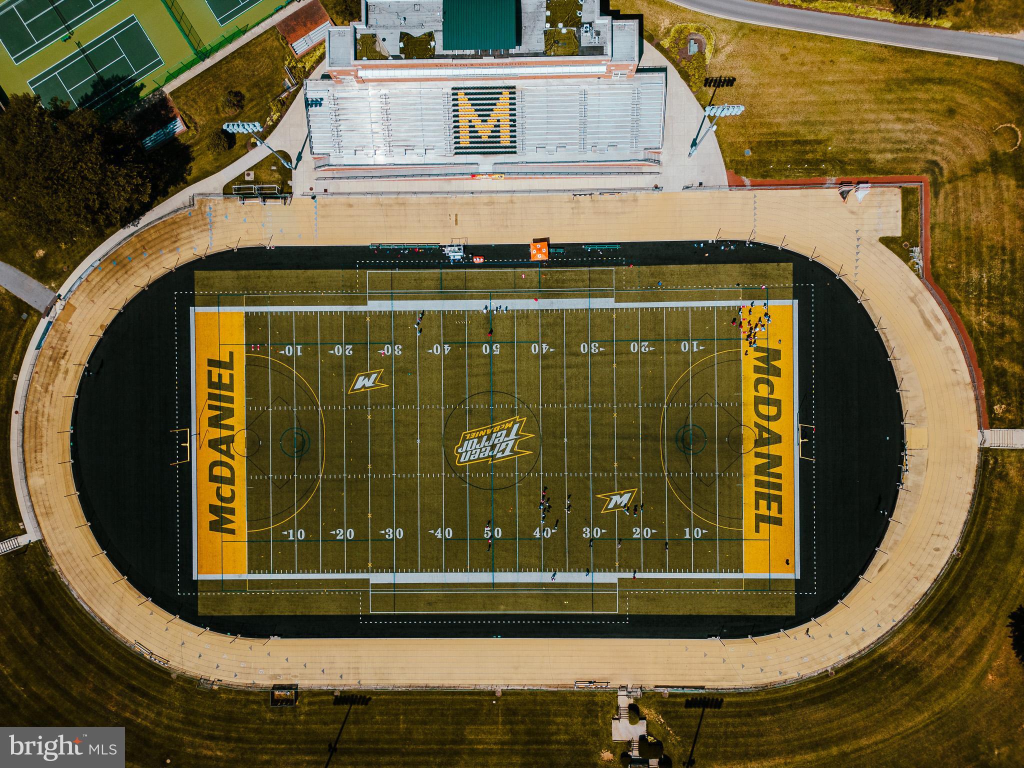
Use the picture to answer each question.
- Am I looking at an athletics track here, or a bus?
athletics track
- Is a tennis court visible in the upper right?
No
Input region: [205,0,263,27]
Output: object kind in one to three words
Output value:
tennis court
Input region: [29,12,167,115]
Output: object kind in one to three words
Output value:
tennis court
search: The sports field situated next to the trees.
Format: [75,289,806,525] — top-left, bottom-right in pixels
[72,241,902,637]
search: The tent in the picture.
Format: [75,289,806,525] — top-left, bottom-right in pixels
[531,243,548,263]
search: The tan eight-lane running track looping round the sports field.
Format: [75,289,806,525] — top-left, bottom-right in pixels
[22,188,978,686]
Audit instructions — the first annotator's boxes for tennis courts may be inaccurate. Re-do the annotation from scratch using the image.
[29,12,167,115]
[0,0,119,65]
[205,0,263,27]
